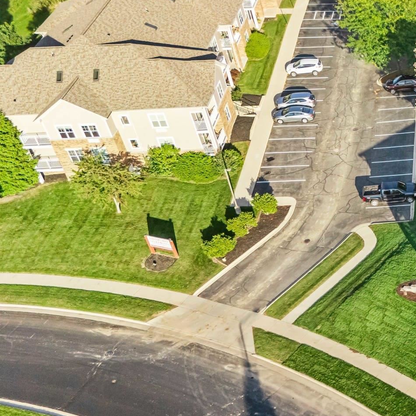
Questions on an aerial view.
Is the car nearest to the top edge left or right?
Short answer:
right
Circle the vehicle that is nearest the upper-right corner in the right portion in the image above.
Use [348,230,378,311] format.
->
[384,73,416,93]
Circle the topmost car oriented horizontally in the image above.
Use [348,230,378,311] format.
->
[283,55,325,75]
